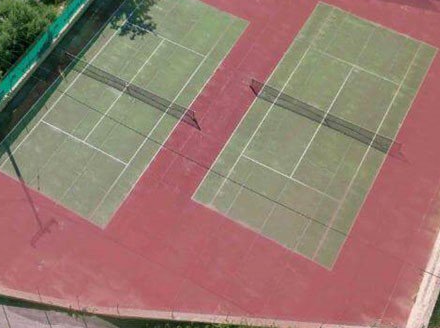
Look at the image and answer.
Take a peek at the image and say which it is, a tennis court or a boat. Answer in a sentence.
There is a tennis court in the scene.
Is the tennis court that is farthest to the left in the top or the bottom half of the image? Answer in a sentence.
The tennis court that is farthest to the left is in the top half of the image.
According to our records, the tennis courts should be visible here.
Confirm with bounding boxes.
[0,0,249,228]
[193,2,438,269]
